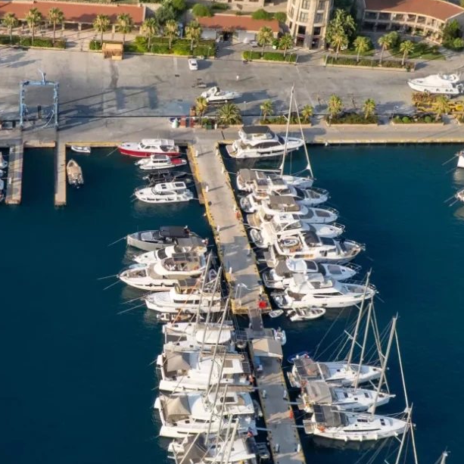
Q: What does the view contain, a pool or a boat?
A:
boat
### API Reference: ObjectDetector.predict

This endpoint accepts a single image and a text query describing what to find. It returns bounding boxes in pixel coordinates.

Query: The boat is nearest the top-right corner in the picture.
[406,69,464,95]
